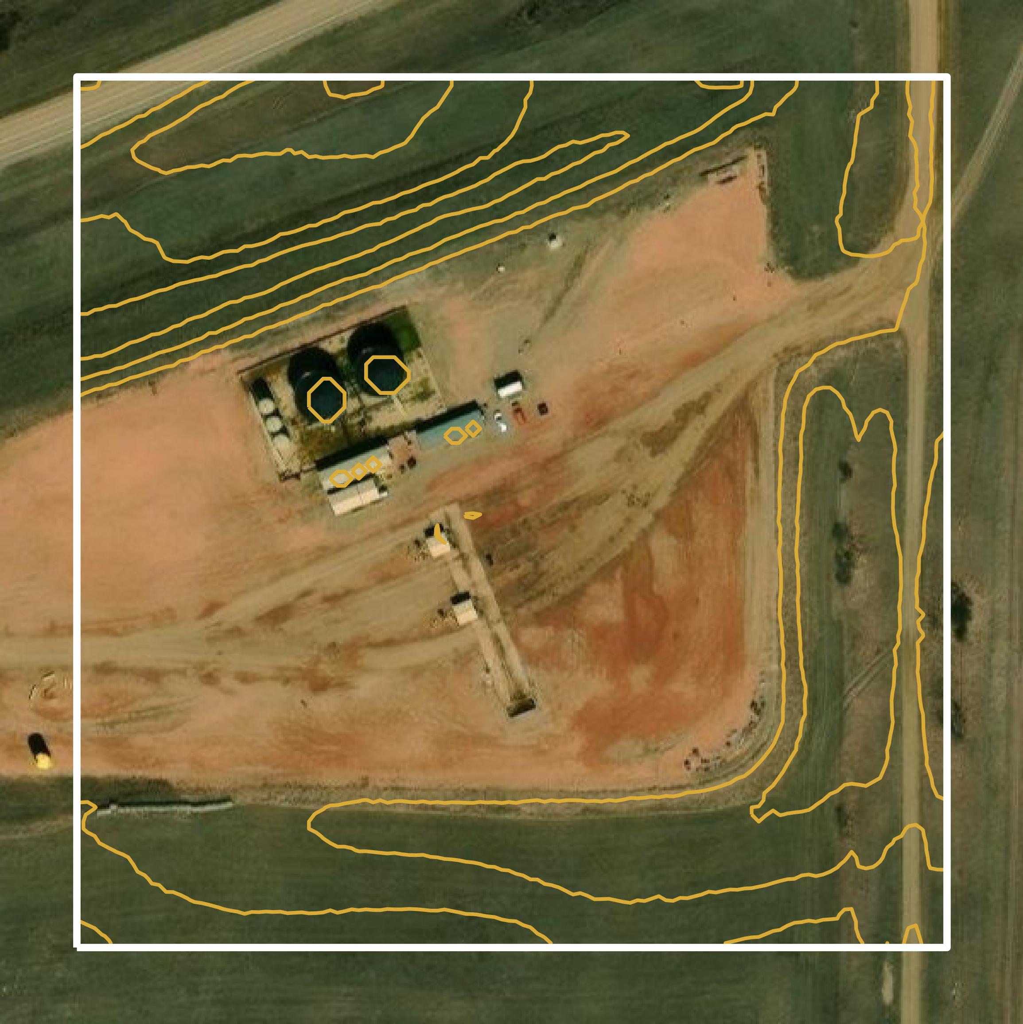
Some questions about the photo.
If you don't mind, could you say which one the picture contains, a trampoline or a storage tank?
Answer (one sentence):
Of the two, only a storage tank appears.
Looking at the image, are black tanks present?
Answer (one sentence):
Yes, a black tank can be made out from above.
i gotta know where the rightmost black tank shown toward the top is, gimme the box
[355,348,406,396]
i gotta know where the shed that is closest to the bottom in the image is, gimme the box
[453,601,477,623]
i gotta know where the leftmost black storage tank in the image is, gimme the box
[296,372,348,422]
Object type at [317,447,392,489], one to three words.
building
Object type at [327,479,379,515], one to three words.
building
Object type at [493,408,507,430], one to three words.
vehicle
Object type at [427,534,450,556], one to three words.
shed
